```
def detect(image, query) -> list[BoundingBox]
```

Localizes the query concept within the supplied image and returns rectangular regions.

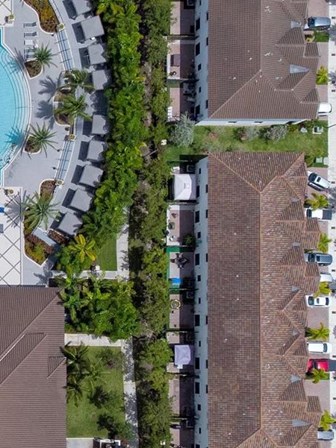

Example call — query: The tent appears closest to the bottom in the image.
[169,347,192,365]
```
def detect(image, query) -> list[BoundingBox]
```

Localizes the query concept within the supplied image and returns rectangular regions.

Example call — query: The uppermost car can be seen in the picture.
[307,16,334,33]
